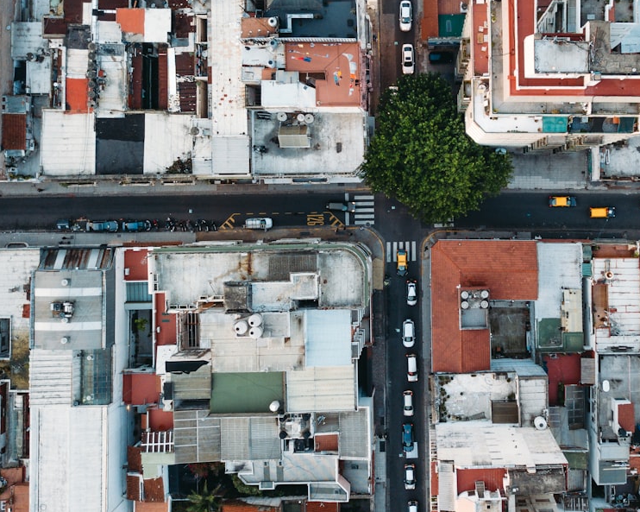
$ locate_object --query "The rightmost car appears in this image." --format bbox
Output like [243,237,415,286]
[588,205,615,218]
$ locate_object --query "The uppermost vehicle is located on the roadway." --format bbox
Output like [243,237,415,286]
[399,2,412,31]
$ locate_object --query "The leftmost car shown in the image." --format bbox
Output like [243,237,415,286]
[88,220,118,232]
